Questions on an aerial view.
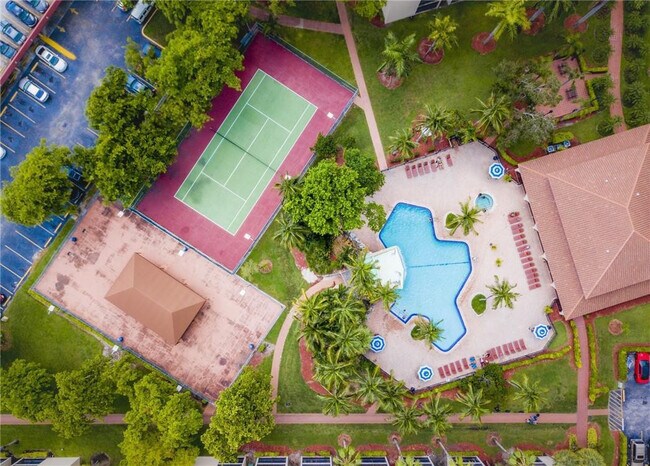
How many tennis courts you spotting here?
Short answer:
one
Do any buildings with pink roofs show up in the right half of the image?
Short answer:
Yes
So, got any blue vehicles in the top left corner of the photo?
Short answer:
Yes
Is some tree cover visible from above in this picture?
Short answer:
Yes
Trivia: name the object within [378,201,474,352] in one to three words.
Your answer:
swimming pool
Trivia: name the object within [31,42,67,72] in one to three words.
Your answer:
car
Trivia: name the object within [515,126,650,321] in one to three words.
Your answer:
building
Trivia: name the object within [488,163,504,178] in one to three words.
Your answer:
umbrella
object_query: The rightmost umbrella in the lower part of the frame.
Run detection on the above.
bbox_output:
[533,323,548,338]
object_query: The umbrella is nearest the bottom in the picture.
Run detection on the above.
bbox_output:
[417,364,433,381]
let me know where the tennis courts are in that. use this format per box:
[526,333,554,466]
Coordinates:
[133,31,355,272]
